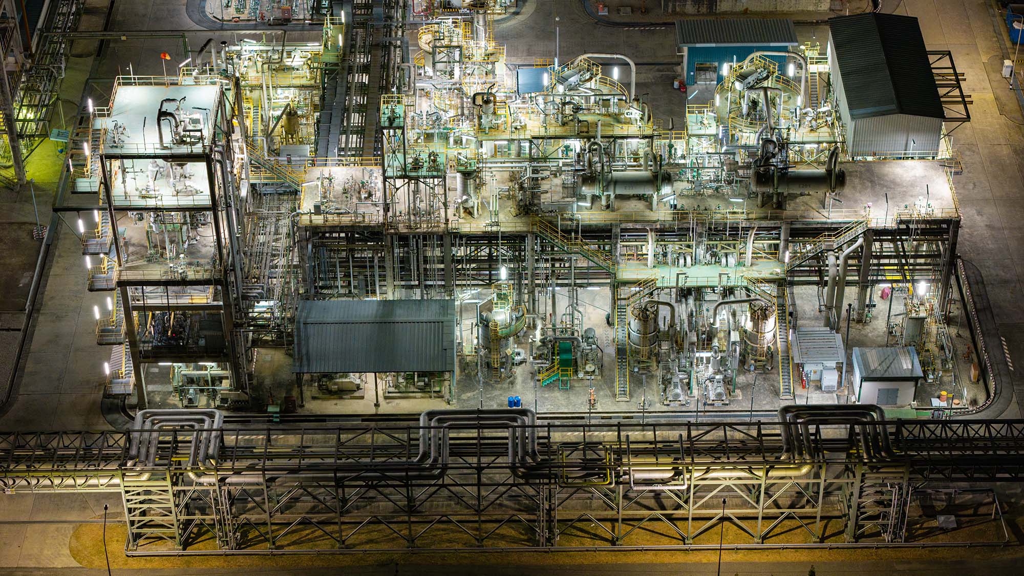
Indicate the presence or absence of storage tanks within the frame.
Yes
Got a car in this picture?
No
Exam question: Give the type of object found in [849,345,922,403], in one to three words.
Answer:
shed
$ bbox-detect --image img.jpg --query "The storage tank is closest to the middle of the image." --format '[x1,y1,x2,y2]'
[470,282,523,387]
